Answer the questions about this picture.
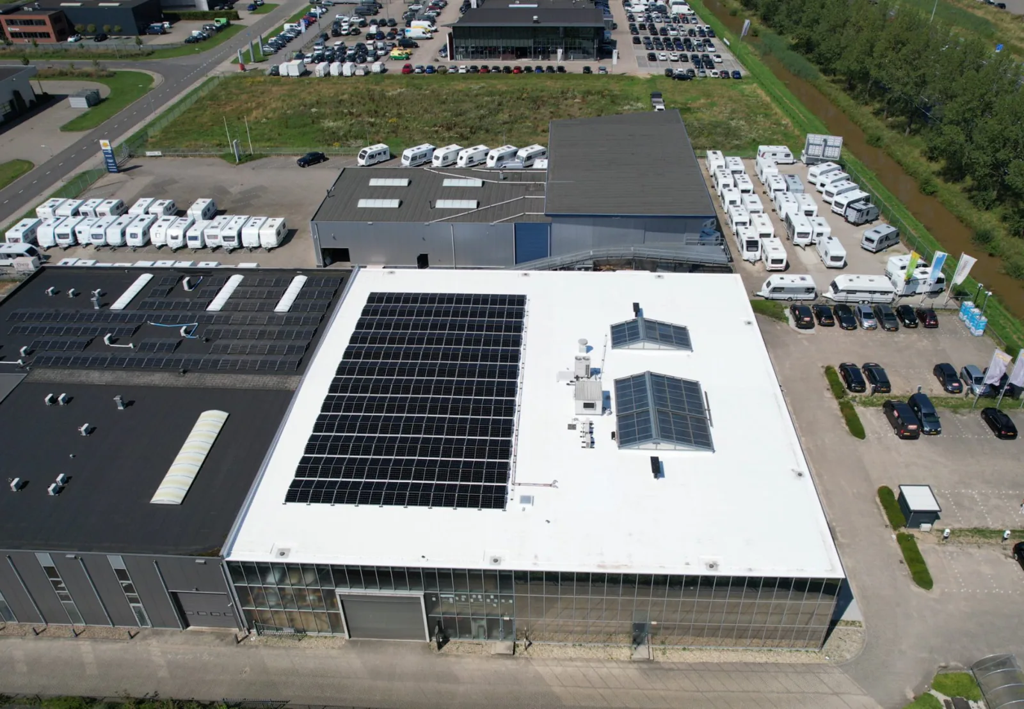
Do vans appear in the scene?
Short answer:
Yes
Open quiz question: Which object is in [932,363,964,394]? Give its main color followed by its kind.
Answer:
black car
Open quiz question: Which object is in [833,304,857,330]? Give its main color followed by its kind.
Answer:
black car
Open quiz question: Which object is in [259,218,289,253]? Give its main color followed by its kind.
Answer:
white camper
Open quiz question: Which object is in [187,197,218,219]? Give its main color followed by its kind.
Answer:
white camper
